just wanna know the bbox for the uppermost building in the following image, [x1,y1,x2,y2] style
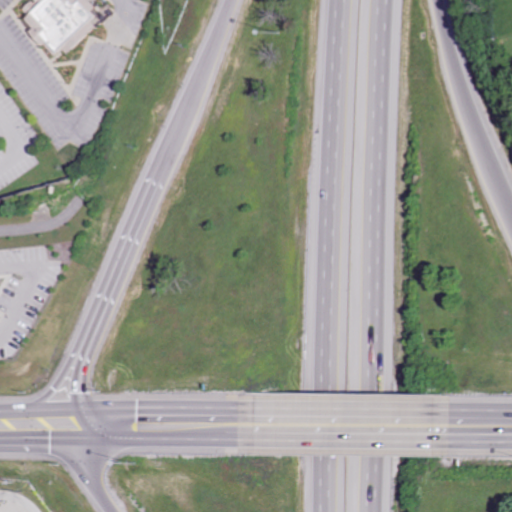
[22,0,104,57]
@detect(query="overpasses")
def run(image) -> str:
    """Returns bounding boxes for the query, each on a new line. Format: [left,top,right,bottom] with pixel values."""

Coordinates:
[238,392,448,458]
